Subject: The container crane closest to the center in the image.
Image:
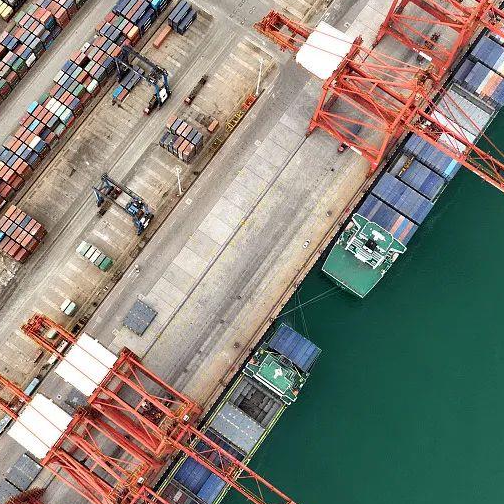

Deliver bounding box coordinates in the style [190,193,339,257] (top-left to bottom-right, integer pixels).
[91,175,154,236]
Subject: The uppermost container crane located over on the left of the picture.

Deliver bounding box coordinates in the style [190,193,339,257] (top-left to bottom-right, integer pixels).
[112,45,172,109]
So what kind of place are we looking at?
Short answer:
port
